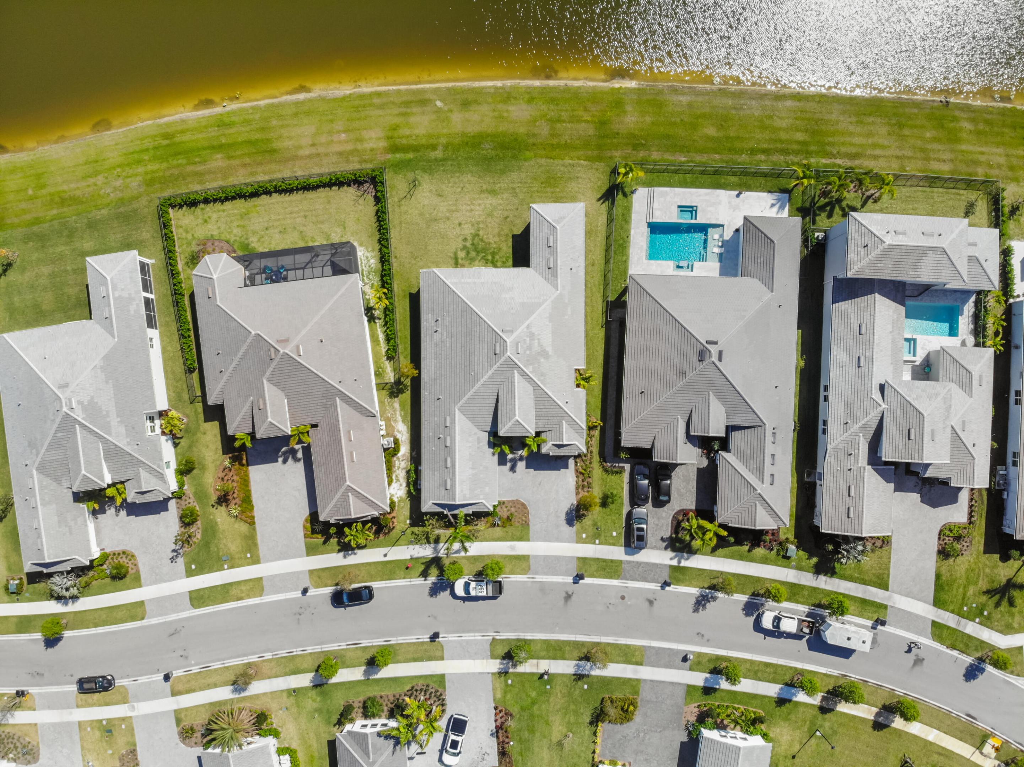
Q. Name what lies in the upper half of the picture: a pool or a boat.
pool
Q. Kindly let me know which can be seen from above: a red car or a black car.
black car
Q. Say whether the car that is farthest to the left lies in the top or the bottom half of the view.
bottom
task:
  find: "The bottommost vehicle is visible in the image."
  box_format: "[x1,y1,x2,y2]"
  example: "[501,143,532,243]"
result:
[441,711,469,766]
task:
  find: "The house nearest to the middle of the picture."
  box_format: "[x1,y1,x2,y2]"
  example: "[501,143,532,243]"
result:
[421,202,587,514]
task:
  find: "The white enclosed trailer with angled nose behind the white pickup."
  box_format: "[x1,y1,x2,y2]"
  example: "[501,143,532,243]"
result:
[813,621,876,654]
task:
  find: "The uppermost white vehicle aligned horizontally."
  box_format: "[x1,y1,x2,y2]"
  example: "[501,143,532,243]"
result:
[454,577,504,598]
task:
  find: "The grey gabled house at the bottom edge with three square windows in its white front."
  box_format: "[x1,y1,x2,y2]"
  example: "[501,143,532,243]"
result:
[693,728,772,767]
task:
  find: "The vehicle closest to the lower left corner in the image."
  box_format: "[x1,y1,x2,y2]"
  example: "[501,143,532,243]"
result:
[75,672,117,695]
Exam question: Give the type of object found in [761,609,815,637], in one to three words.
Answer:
truck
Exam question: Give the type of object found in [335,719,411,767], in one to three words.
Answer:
house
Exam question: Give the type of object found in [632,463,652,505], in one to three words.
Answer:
car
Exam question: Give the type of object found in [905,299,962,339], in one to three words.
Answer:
swimming pool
